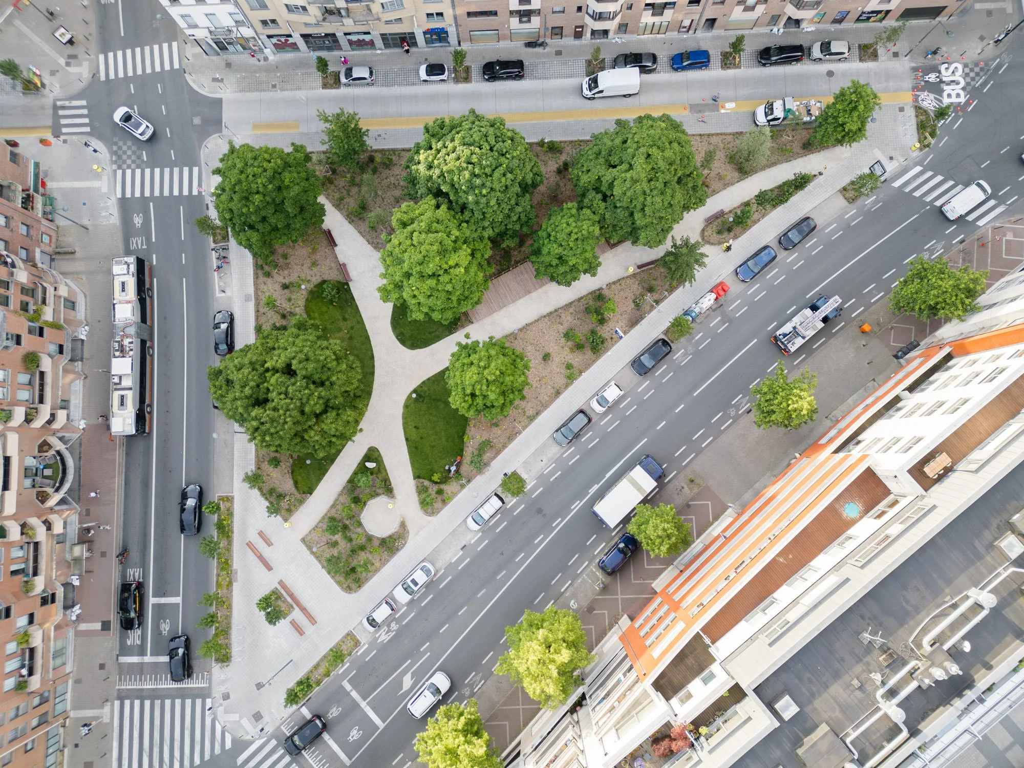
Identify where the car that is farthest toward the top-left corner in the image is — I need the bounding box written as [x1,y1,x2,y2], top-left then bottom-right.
[114,104,158,148]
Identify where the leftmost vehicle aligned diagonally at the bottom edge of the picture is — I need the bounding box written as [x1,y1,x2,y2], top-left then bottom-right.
[283,711,330,757]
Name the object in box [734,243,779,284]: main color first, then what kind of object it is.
blue car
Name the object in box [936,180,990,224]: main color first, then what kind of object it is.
white van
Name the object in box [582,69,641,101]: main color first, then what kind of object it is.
white van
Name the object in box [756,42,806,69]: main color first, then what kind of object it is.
black car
